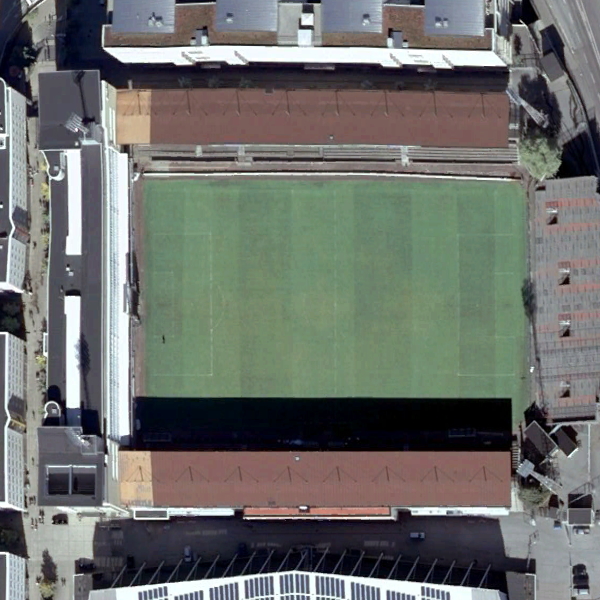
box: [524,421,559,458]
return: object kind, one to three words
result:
shed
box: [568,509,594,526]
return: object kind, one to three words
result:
shed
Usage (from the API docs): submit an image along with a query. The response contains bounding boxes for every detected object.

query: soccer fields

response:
[138,179,527,445]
